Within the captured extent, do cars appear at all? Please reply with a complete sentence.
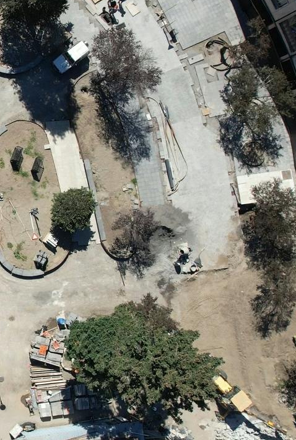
Yes, there's a car down there.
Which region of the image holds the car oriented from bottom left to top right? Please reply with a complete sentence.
The car oriented from bottom left to top right appears toward the top left of the photo.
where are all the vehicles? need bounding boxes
[55,36,96,72]
[203,356,291,438]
